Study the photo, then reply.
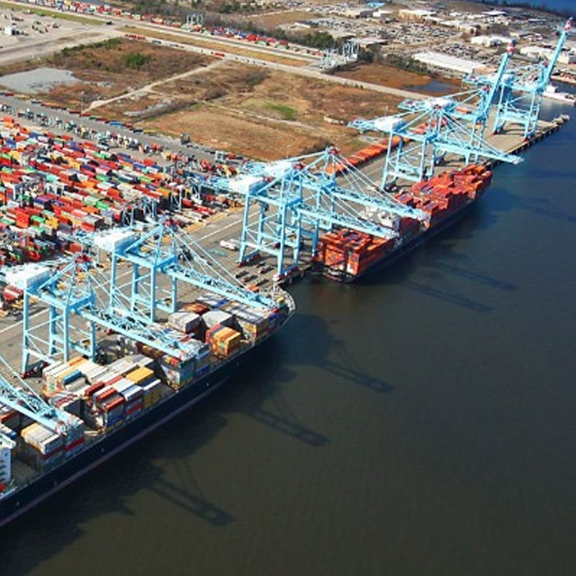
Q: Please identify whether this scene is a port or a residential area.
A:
port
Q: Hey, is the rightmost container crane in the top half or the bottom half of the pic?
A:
top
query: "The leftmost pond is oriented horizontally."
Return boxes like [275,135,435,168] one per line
[0,68,109,93]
